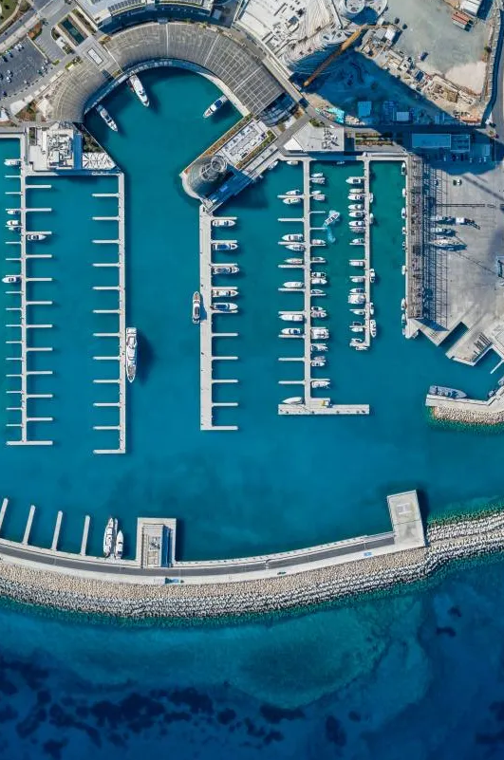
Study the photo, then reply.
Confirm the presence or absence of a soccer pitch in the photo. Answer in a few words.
No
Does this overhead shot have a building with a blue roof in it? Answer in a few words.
Yes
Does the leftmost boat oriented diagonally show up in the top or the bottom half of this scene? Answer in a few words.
top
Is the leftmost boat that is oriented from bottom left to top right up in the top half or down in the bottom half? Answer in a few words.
top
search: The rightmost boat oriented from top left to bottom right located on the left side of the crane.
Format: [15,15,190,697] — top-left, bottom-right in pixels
[125,73,148,105]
